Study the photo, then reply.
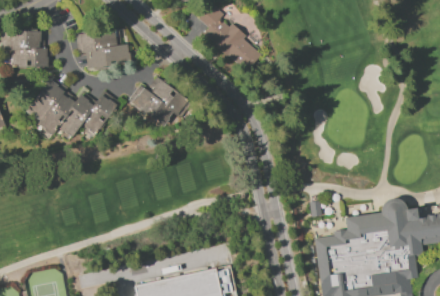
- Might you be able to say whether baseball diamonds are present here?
No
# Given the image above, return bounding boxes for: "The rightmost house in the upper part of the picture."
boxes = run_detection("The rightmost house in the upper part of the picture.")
[198,6,264,64]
